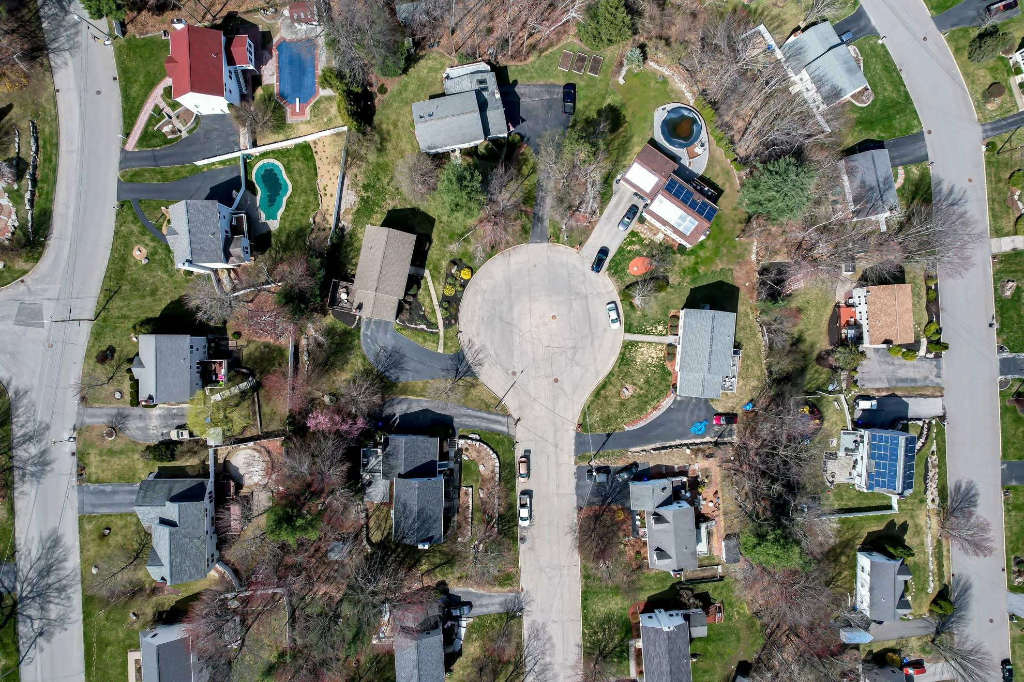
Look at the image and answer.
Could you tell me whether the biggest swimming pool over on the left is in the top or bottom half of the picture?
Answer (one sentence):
It is in the top half that the biggest swimming pool over on the left appears.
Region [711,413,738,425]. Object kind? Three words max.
vehicle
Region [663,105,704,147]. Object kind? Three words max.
swimming pool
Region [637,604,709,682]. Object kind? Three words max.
house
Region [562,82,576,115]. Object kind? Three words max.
vehicle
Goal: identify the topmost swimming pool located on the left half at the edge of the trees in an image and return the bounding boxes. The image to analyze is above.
[273,35,321,119]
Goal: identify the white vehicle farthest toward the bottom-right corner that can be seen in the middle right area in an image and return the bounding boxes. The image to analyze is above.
[851,397,879,410]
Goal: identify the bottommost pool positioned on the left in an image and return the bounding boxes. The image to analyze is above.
[252,158,292,223]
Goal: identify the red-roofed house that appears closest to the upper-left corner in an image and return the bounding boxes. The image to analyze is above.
[162,17,262,111]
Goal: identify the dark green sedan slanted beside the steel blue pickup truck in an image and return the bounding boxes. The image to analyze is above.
[614,461,640,483]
